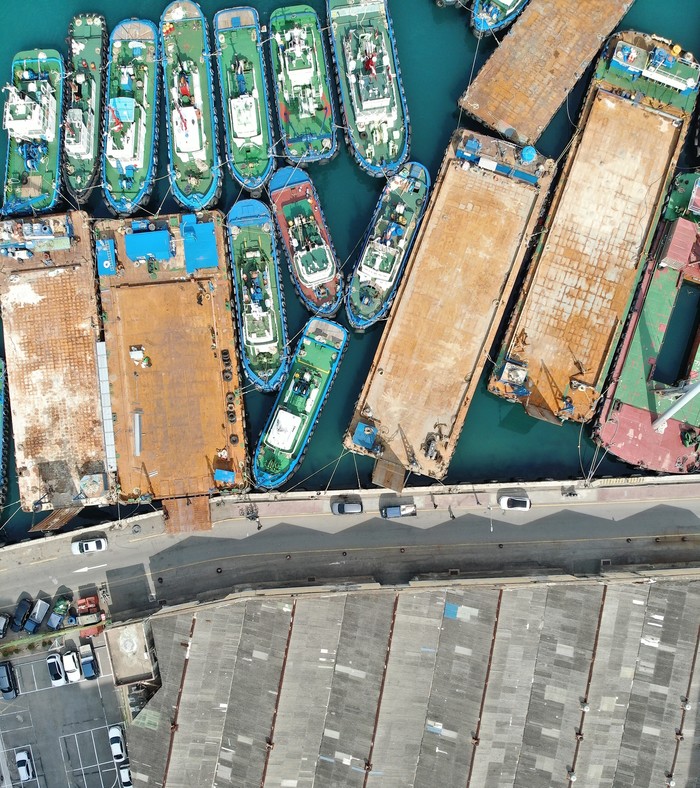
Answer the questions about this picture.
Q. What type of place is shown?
parking lot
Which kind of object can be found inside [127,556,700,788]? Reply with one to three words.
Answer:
warehouse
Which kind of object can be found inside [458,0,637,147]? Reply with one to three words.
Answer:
ship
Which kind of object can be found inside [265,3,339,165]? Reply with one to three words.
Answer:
boat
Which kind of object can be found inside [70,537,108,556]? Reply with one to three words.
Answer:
car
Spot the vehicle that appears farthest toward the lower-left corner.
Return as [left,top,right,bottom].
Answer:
[15,750,35,784]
